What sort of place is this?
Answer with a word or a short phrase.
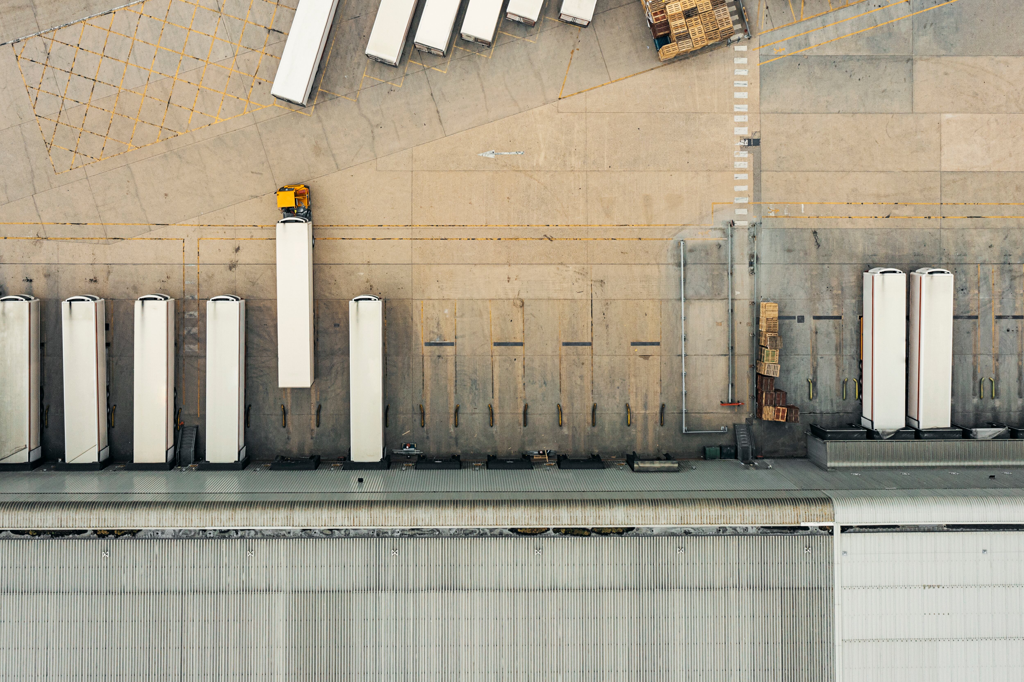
industrial area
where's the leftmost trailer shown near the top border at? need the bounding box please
[271,0,339,109]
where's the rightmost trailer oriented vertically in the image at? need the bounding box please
[905,269,954,428]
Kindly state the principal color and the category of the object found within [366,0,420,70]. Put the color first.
white trailer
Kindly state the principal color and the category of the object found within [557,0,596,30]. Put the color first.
white trailer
